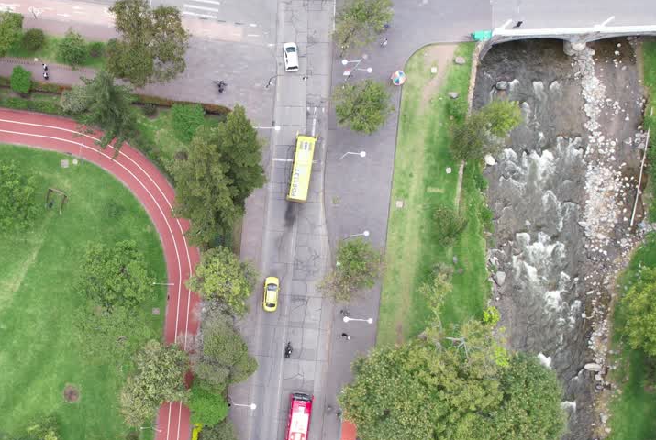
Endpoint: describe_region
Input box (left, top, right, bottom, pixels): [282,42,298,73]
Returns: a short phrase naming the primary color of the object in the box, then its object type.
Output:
white car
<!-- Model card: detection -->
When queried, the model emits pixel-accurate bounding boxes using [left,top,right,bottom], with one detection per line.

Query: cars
[282,42,298,73]
[263,276,280,312]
